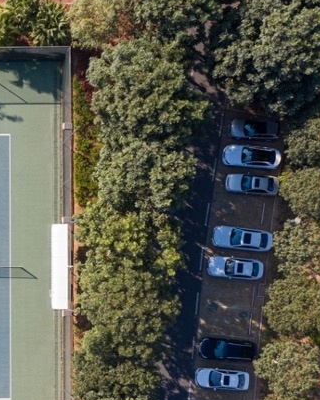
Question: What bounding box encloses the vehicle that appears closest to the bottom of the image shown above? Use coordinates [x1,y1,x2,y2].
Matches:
[192,367,250,391]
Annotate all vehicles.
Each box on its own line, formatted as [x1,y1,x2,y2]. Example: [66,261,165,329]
[192,367,250,391]
[225,115,281,142]
[196,336,258,361]
[210,226,272,251]
[222,171,280,197]
[204,255,264,279]
[220,143,282,169]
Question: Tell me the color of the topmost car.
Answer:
black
